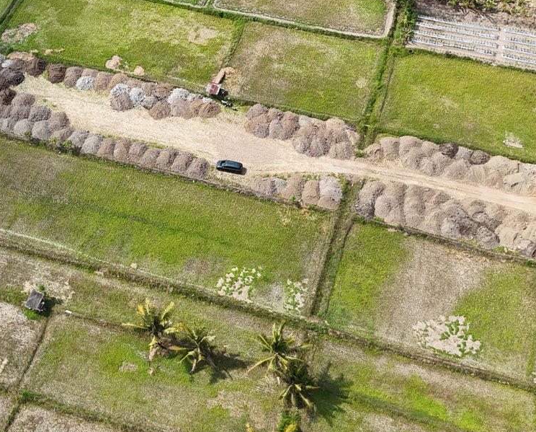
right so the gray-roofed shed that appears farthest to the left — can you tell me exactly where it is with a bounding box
[21,288,46,312]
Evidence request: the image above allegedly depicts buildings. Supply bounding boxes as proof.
[207,79,224,99]
[21,288,46,312]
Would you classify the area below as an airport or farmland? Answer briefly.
farmland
